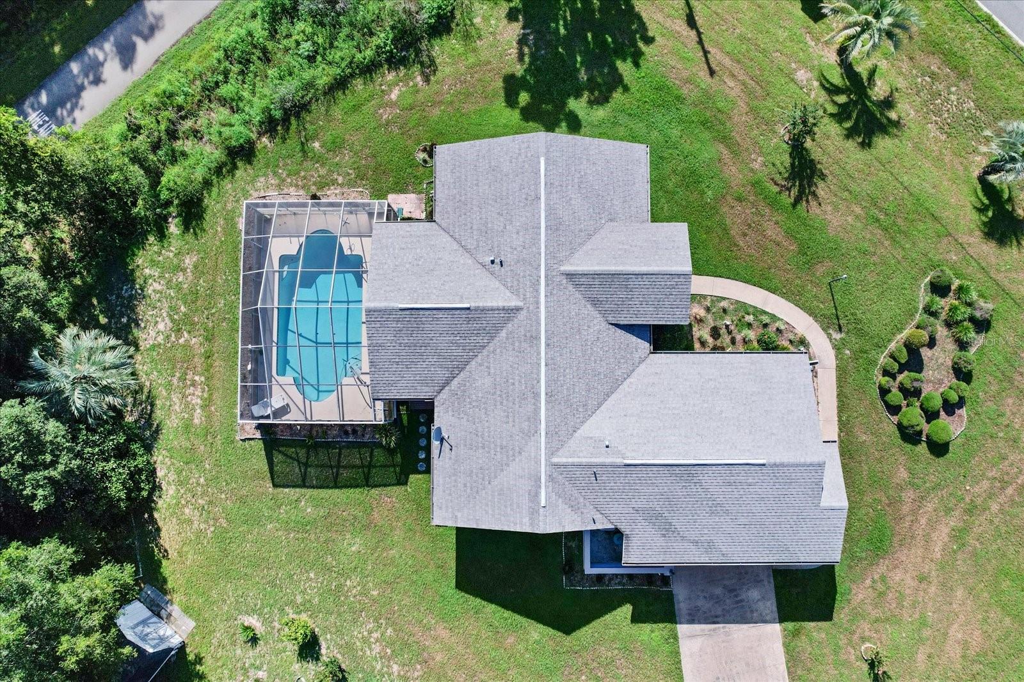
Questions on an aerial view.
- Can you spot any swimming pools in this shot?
Yes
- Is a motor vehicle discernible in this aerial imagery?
No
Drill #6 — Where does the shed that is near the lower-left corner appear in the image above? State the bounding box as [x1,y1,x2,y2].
[110,594,184,665]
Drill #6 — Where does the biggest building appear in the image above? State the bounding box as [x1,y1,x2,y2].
[365,131,847,567]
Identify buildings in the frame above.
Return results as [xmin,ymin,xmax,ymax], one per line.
[365,131,847,567]
[110,594,184,665]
